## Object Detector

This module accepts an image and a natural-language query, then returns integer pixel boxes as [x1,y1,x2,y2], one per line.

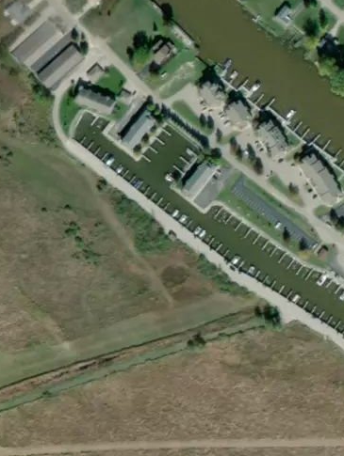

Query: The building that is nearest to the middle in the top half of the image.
[181,157,221,202]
